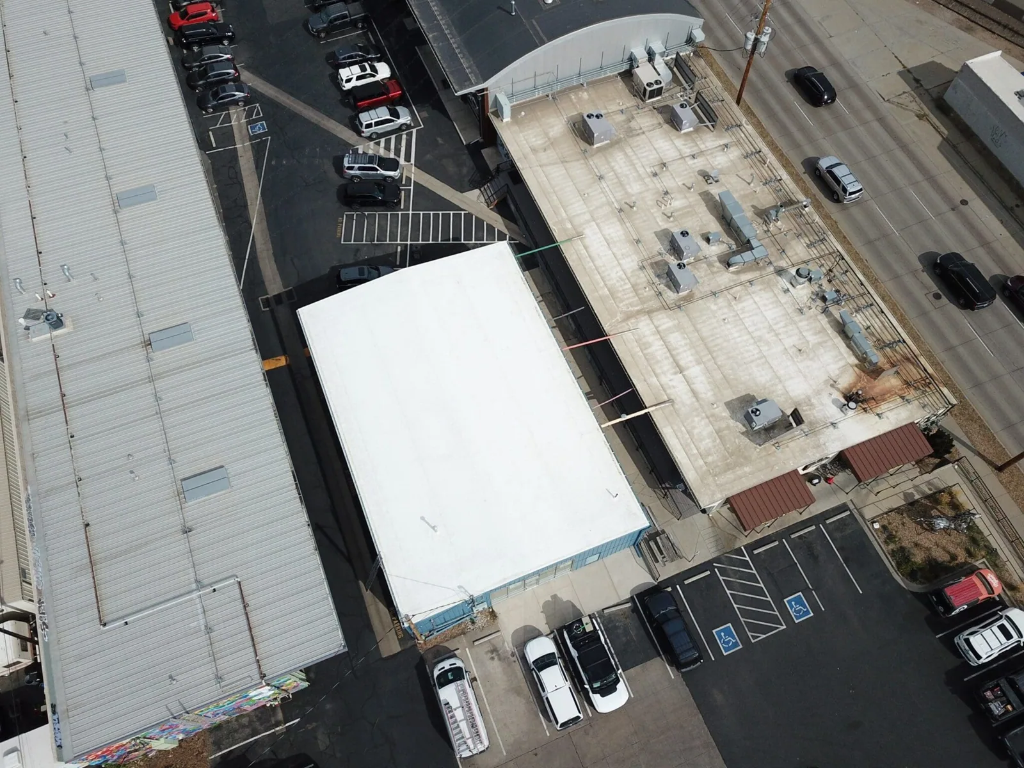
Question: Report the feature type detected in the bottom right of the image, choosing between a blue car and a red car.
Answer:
red car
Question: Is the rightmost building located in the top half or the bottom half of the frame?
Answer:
top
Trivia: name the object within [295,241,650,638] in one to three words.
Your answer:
building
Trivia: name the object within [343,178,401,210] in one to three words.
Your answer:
car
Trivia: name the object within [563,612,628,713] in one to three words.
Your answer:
truck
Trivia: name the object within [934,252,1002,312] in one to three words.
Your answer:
car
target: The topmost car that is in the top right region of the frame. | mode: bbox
[791,68,841,108]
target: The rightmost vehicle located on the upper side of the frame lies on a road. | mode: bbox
[1000,279,1024,320]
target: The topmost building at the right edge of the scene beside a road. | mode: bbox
[944,46,1024,186]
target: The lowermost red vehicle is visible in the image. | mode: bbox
[926,569,1005,621]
